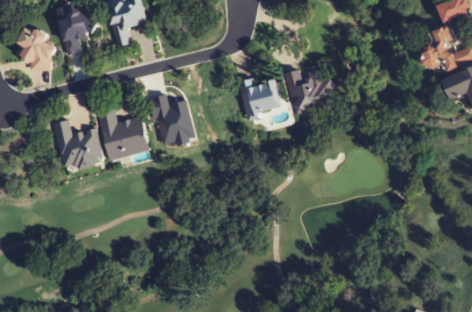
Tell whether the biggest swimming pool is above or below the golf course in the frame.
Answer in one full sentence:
In the image, the biggest swimming pool appears above the golf course.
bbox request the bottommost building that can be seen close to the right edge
[440,66,472,102]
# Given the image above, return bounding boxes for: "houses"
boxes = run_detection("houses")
[20,28,57,76]
[240,78,282,120]
[286,69,335,111]
[101,112,151,159]
[108,0,146,42]
[437,0,472,21]
[422,26,472,72]
[56,2,94,54]
[52,119,105,171]
[152,94,194,146]
[440,66,472,102]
